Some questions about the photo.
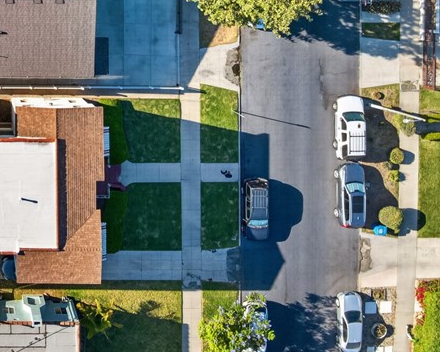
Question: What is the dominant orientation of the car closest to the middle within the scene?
up and down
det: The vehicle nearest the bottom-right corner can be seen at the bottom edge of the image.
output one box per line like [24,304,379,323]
[332,289,365,352]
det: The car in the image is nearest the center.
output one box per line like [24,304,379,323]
[241,177,272,239]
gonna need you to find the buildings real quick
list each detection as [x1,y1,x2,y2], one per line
[0,294,83,352]
[0,93,126,284]
[0,0,98,82]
